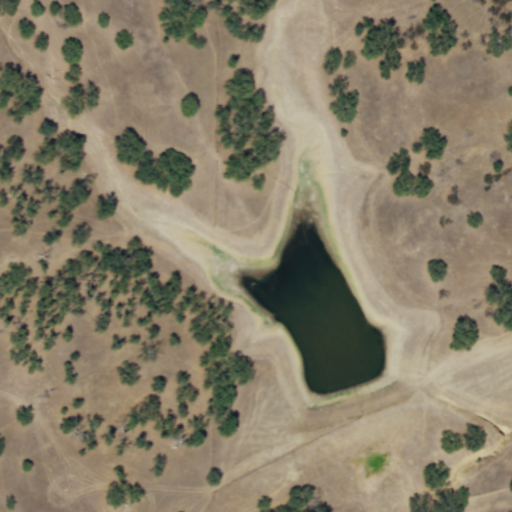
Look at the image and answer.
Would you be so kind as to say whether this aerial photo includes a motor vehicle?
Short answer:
No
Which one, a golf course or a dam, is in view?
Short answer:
dam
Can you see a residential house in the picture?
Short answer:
No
